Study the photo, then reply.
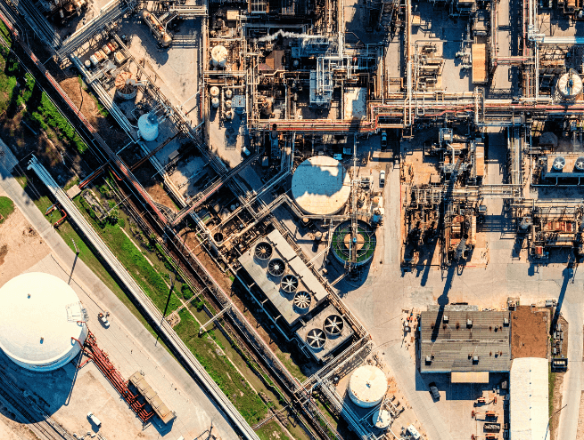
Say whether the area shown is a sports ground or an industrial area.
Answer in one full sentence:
What you see here is an industrial area.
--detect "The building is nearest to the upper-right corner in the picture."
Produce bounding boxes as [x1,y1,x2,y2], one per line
[470,43,486,91]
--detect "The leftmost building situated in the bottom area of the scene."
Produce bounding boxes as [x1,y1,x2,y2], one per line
[419,312,511,375]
